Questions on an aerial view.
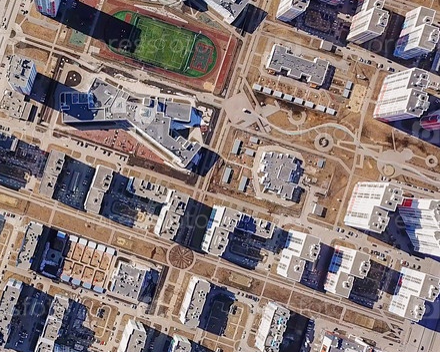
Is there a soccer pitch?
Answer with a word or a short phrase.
Yes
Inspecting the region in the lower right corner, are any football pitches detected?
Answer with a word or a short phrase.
No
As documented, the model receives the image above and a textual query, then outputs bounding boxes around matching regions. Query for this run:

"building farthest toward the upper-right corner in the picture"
[395,7,439,59]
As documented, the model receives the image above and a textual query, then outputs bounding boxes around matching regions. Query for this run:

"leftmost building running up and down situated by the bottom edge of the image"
[0,275,26,347]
